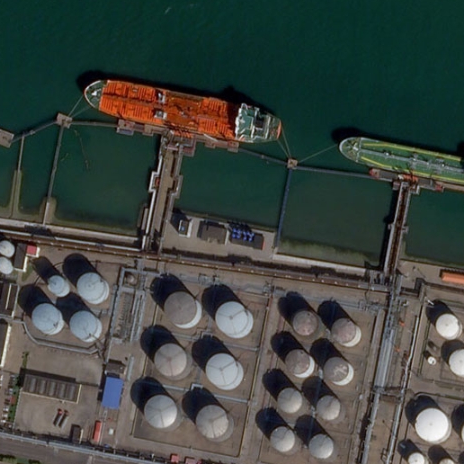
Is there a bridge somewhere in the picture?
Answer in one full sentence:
Yes, the picture does show a bridge.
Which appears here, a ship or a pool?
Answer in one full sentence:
There is a ship in the scene.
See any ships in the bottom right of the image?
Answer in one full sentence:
No, no ship appears in the bottom right of the image.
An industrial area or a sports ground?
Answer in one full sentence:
This image shows an industrial area.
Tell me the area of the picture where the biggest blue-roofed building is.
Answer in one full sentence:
The biggest blue-roofed building sits in the bottom left section of the image.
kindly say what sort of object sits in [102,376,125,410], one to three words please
building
